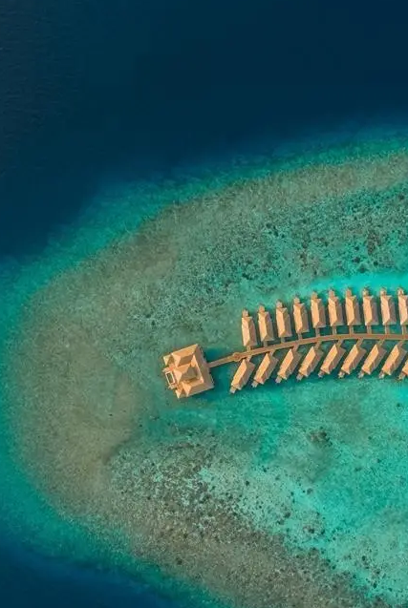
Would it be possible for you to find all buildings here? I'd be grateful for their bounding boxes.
[397,288,408,325]
[358,344,387,377]
[275,300,293,338]
[295,347,324,381]
[310,290,326,328]
[362,288,378,326]
[336,344,365,377]
[163,344,214,399]
[316,344,345,377]
[228,359,256,394]
[378,345,407,378]
[379,288,396,325]
[273,349,302,384]
[257,305,273,342]
[293,296,309,334]
[344,288,361,326]
[327,289,343,326]
[241,309,257,346]
[251,354,278,387]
